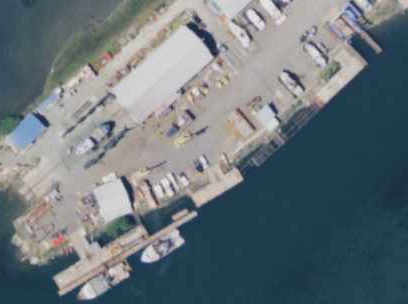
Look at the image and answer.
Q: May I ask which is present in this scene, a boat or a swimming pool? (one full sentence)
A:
There is a boat in the scene.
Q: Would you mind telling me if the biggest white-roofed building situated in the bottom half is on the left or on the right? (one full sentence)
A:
The biggest white-roofed building situated in the bottom half appears in the left half of the scene.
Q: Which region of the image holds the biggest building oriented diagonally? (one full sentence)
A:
You can find the biggest building oriented diagonally in the top area of the picture.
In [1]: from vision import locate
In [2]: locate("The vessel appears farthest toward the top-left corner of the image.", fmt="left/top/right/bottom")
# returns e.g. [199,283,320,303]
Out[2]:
[71,126,110,156]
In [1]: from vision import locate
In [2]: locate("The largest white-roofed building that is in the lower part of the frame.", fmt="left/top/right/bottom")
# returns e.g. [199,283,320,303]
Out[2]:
[92,178,132,222]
